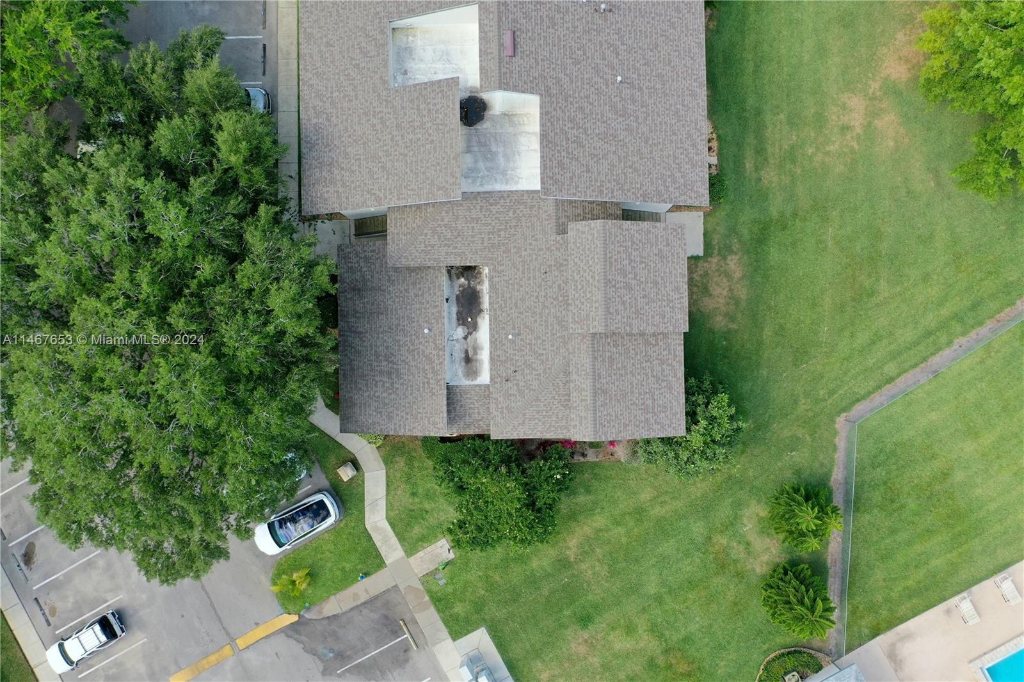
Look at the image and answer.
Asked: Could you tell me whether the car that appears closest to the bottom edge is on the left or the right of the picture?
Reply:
left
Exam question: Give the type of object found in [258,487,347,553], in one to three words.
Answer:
car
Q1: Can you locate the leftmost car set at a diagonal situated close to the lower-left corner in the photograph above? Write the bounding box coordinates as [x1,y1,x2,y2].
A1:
[48,606,132,671]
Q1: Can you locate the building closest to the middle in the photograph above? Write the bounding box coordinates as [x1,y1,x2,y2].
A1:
[340,191,688,442]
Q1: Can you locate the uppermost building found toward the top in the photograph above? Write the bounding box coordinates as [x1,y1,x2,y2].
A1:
[300,0,710,219]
